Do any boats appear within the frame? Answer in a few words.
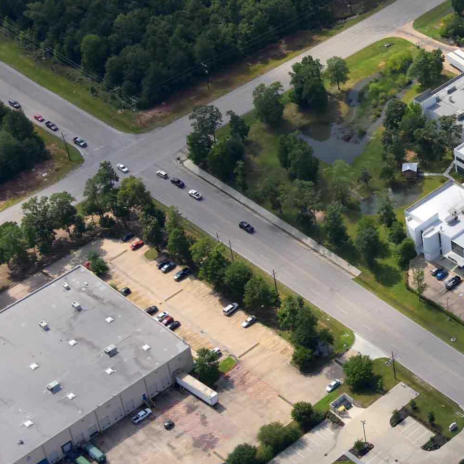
No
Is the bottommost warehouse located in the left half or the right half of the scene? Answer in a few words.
left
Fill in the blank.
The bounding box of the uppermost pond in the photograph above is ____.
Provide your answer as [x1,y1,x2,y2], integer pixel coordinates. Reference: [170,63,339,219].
[298,73,416,162]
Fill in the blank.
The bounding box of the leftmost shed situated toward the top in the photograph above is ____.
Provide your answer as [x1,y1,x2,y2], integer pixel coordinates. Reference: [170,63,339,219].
[399,161,419,184]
